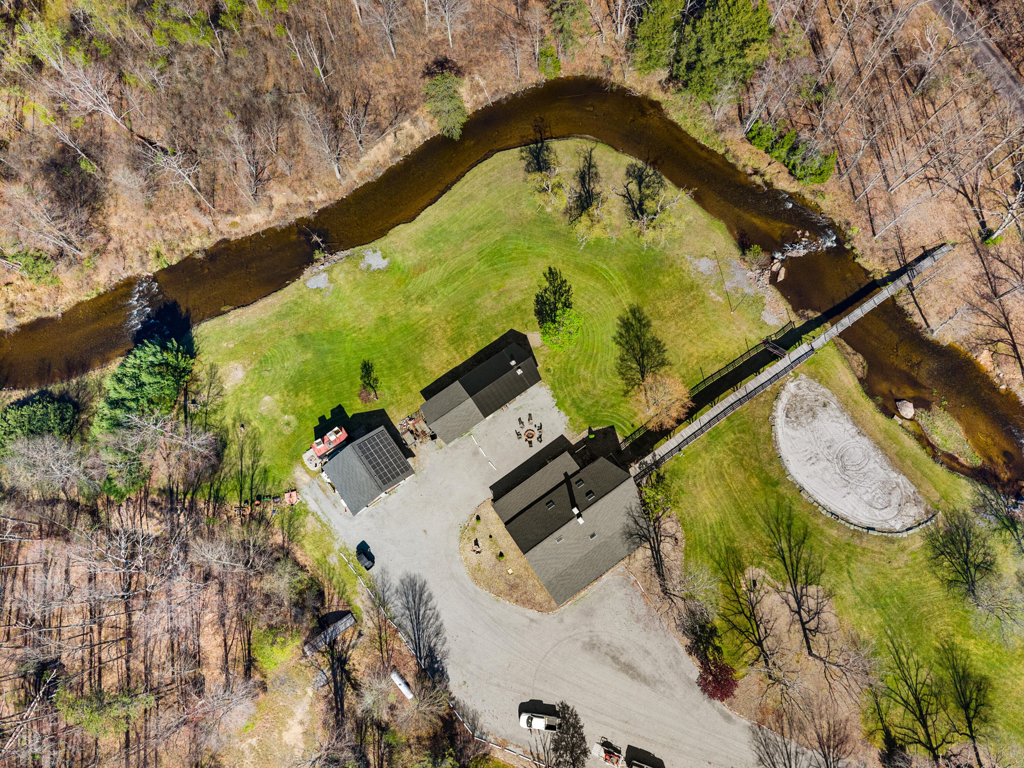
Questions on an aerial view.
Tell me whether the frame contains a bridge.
Yes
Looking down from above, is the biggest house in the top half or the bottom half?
bottom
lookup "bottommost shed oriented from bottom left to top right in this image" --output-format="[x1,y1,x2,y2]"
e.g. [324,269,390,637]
[301,611,360,657]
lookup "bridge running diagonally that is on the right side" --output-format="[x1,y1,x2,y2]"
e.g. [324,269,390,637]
[794,243,954,358]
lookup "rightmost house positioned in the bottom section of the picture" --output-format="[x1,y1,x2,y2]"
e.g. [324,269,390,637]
[492,451,653,607]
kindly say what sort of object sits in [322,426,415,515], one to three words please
building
